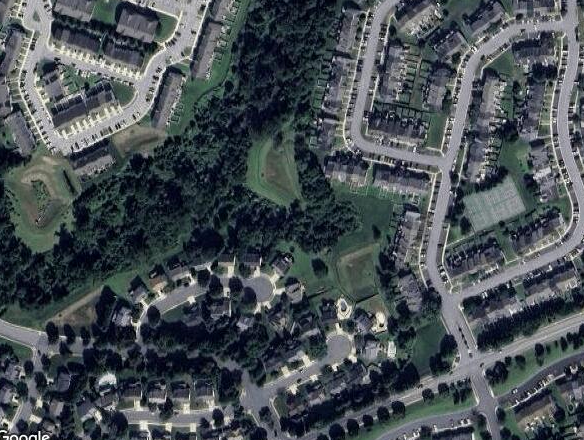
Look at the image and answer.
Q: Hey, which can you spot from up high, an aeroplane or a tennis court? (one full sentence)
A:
Of the two, only a tennis court appears.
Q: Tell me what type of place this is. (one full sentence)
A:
This looks like a residential area.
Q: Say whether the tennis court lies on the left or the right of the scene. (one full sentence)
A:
The tennis court sits on the right side.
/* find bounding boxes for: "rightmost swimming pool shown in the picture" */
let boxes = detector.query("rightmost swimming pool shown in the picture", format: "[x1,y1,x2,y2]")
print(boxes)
[373,310,388,332]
